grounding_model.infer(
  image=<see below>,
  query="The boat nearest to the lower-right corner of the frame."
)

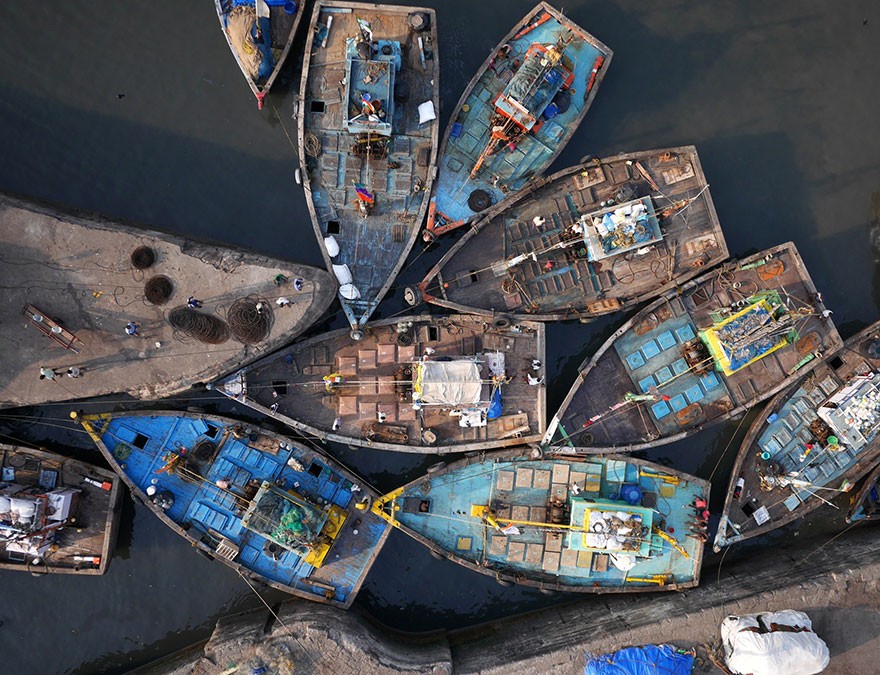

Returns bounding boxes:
[840,461,880,522]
